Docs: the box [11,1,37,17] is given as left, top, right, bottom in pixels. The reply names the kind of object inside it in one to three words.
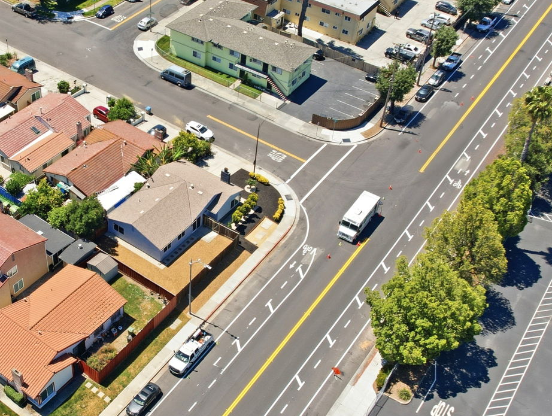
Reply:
vehicle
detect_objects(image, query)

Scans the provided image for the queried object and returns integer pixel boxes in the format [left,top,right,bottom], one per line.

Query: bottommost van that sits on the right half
[340,186,384,237]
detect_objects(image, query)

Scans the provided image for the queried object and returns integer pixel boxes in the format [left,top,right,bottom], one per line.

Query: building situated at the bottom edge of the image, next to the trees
[0,264,127,408]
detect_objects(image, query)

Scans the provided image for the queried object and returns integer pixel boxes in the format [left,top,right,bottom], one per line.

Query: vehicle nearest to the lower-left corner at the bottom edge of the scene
[123,379,164,416]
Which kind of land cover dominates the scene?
paved ground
